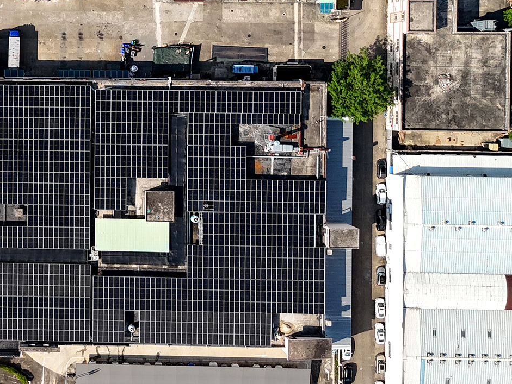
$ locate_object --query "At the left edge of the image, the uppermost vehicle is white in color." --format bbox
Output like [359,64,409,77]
[8,34,20,73]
